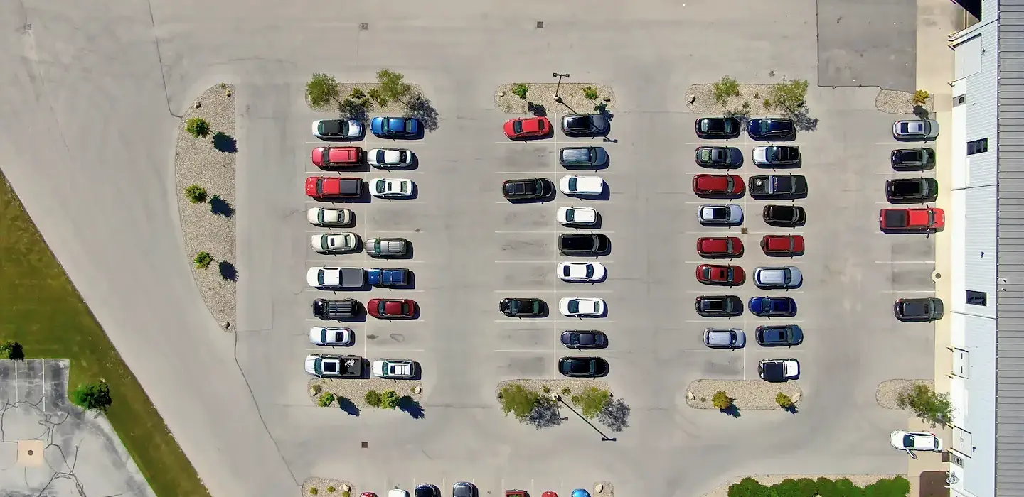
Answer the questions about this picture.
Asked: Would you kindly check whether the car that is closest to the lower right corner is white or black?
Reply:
white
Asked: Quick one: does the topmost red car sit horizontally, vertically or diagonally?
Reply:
horizontally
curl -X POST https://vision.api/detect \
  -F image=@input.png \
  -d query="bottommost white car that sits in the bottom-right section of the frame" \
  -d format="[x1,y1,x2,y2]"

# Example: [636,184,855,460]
[888,430,943,459]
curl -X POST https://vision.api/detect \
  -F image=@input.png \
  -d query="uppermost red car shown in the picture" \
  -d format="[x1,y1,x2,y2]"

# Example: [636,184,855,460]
[504,117,550,140]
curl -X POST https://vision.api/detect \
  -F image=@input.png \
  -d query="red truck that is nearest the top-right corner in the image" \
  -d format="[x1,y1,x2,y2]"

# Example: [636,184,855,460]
[878,206,946,231]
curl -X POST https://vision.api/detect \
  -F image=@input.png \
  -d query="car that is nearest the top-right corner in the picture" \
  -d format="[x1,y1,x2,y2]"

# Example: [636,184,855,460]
[891,117,940,140]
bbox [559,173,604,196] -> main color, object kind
white vehicle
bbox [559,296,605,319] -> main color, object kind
white car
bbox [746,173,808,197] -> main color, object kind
black truck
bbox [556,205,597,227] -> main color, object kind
white car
